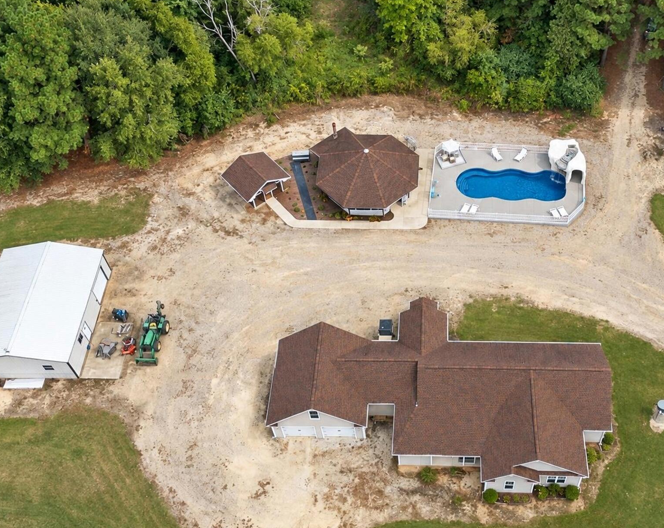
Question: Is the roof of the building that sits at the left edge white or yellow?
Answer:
white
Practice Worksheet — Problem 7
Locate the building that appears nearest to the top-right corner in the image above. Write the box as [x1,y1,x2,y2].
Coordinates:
[308,118,422,218]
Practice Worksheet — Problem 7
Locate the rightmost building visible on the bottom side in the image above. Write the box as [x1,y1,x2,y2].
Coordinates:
[265,297,613,493]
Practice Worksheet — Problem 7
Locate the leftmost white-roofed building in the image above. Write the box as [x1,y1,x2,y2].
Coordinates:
[0,241,114,379]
